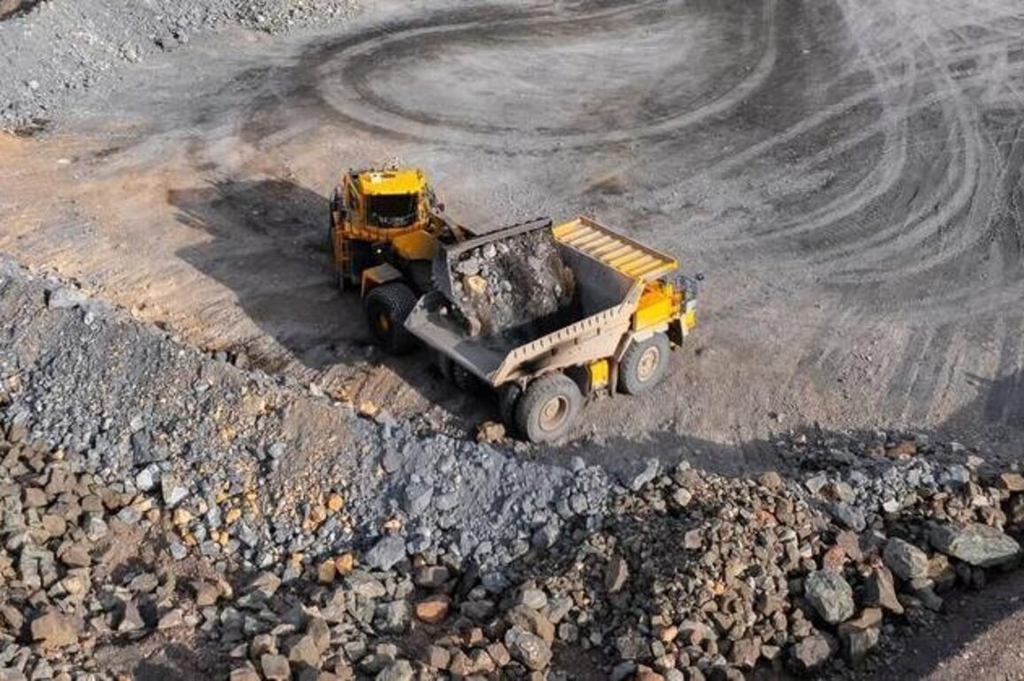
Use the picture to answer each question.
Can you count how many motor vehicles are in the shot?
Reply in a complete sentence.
The count of motor vehicles comes to 2.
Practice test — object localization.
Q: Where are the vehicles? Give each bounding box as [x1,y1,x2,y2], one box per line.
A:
[404,212,705,446]
[338,163,585,355]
